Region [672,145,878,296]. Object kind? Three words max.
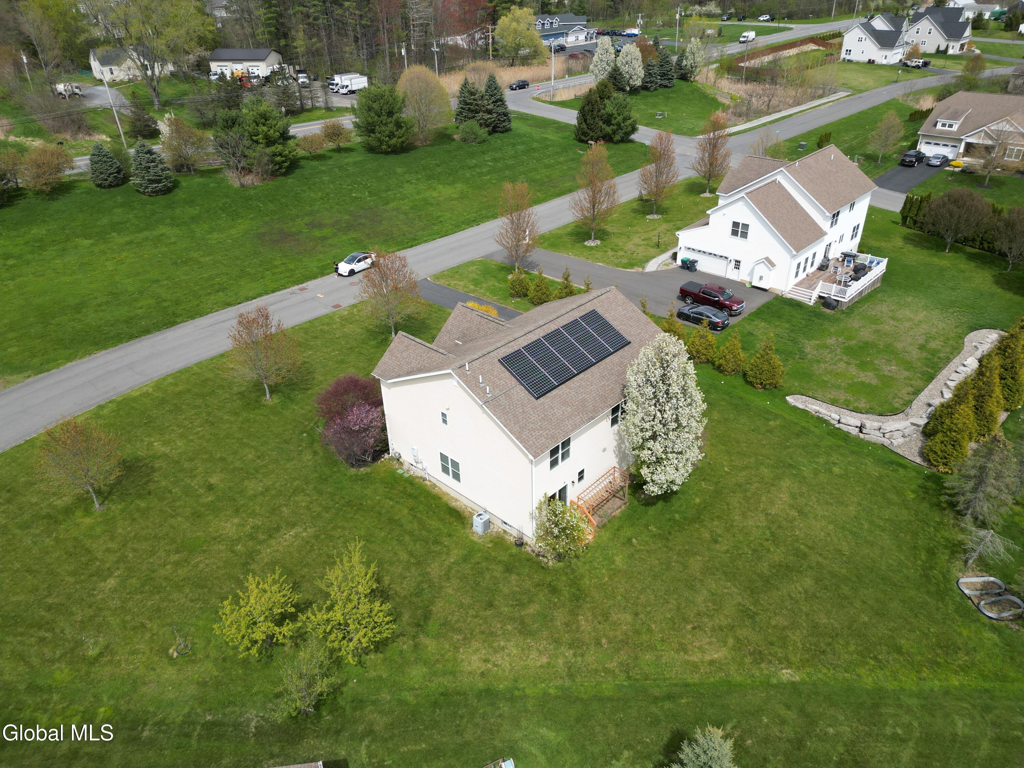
house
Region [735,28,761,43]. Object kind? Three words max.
vehicle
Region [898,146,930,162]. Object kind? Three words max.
car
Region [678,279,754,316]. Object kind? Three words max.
truck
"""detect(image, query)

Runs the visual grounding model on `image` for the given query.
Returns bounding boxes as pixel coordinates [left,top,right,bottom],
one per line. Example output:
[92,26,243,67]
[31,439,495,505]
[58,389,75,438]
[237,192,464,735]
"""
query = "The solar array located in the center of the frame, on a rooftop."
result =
[497,308,632,403]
